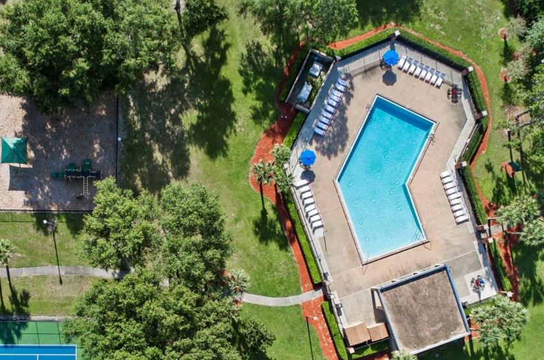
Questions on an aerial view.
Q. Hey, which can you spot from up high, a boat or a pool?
pool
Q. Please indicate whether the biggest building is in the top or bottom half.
bottom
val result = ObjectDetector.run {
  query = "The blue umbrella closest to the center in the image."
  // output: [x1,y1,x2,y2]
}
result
[300,149,316,166]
